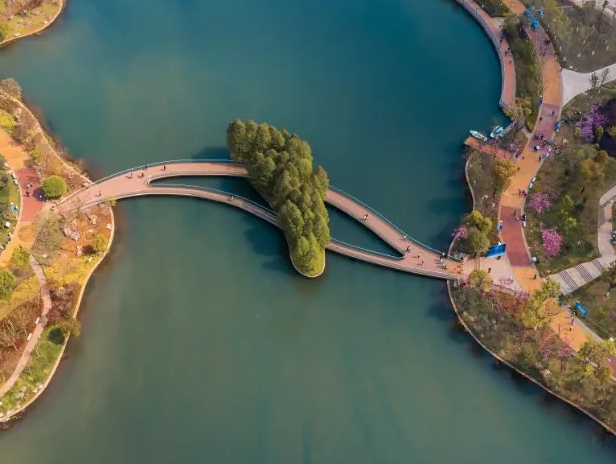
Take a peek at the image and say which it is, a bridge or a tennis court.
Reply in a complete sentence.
I can see a bridge in this picture.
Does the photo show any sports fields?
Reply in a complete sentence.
No, the frame has no sports field in it.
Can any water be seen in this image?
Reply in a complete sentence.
Yes, water shows up in the scene.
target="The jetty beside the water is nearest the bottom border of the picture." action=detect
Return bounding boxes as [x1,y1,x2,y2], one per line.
[465,134,518,160]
